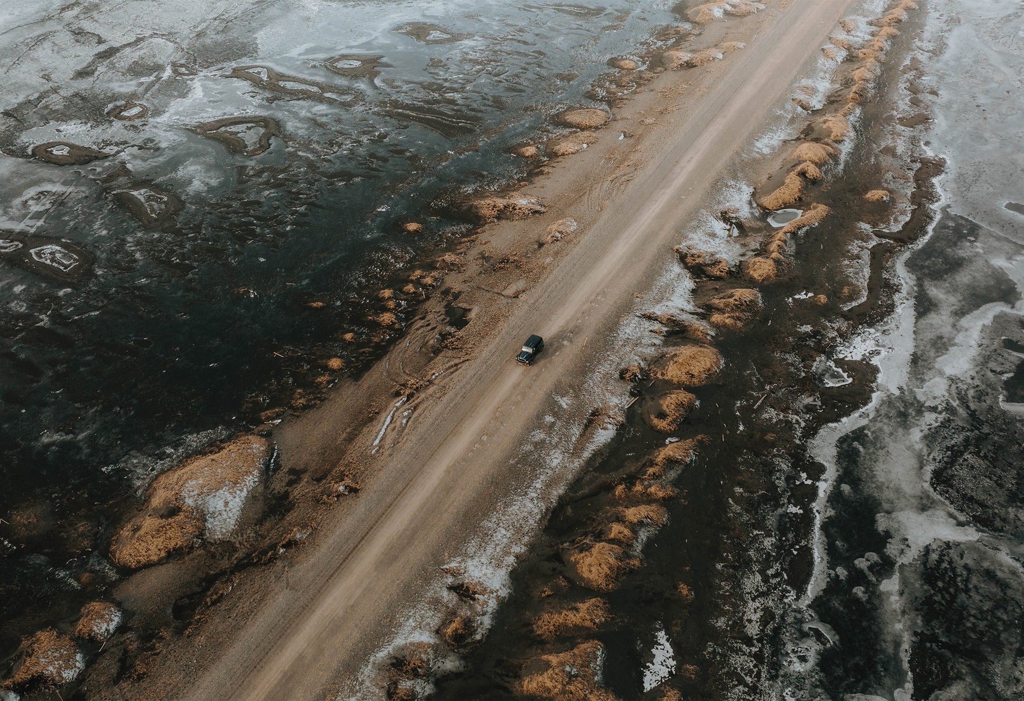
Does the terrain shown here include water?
Yes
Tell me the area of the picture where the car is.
center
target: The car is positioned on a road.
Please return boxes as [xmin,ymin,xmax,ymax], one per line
[516,337,544,367]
